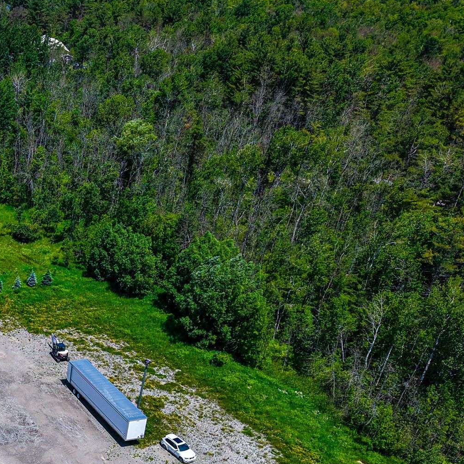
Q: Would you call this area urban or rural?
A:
rural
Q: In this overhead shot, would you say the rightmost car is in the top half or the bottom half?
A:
bottom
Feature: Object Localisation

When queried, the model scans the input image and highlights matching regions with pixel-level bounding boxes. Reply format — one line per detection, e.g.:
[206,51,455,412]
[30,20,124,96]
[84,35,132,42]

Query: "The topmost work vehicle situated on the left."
[49,336,71,362]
